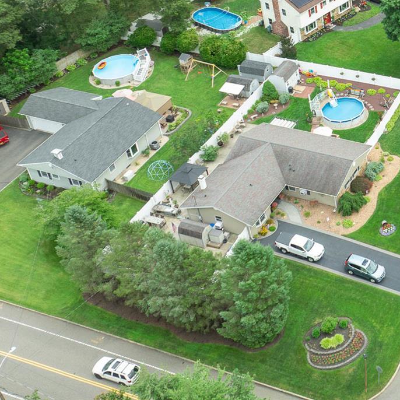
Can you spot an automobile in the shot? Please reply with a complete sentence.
Yes, you can see an automobile in this photo.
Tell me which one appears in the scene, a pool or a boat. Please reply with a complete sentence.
I can see a pool in this picture.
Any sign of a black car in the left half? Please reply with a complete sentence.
No, no black car is visible in the left half.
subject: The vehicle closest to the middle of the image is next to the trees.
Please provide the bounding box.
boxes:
[272,231,327,260]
